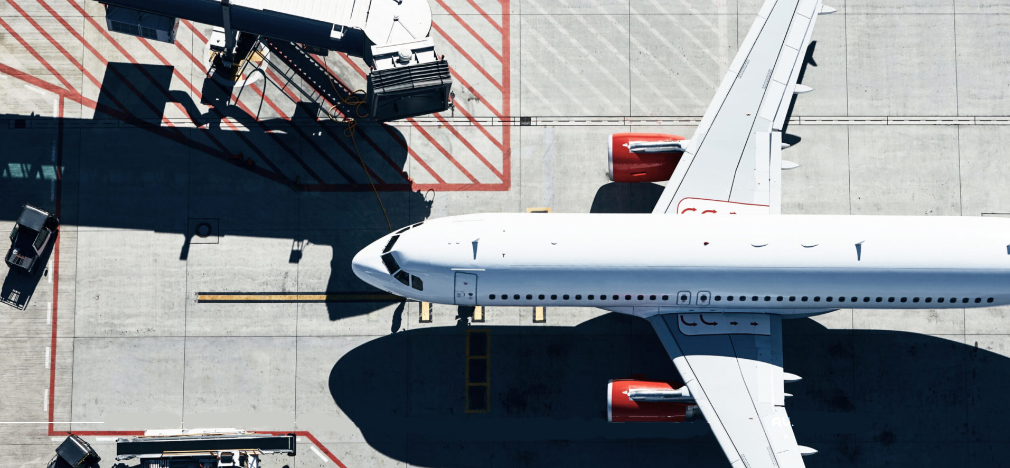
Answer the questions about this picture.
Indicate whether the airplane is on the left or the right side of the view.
right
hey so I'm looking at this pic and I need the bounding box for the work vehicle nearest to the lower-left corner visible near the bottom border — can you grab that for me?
[48,433,102,468]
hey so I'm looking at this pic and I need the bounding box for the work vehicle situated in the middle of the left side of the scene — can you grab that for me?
[4,201,57,274]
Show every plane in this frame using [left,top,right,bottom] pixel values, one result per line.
[352,0,1010,468]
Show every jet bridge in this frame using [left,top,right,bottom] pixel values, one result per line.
[103,0,463,124]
